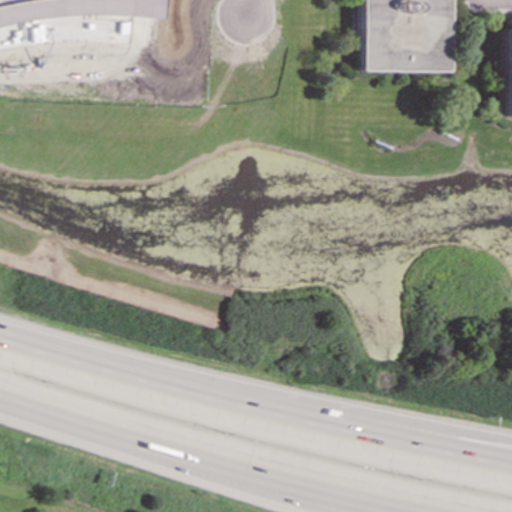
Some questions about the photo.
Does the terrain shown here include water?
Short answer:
Yes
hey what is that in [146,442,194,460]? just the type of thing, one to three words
vehicle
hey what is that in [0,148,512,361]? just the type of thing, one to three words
pond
